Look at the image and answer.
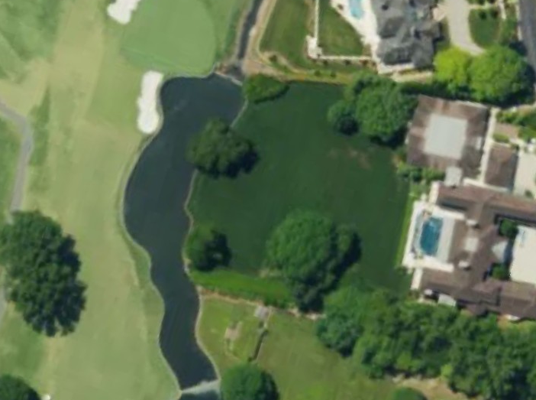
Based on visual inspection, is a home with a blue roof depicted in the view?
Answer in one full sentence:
No, the frame has no home with a blue roof in it.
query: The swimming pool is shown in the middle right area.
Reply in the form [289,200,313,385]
[419,216,443,256]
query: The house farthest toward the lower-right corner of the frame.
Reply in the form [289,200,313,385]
[419,185,536,316]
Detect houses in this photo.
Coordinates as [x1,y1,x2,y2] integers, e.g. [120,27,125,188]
[485,143,520,190]
[371,0,442,70]
[419,185,536,316]
[407,96,488,186]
